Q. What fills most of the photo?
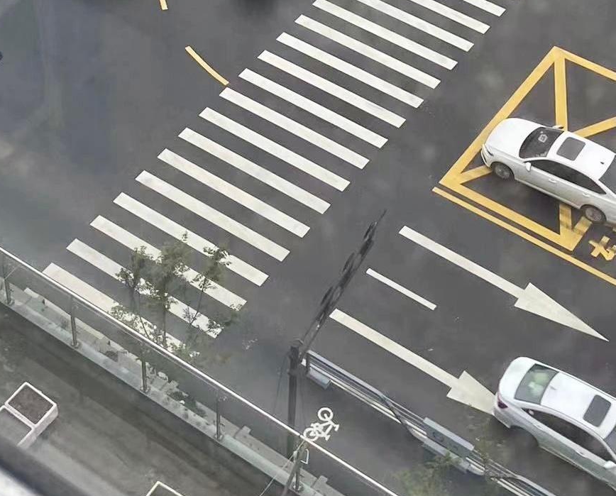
paved ground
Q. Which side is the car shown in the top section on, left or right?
right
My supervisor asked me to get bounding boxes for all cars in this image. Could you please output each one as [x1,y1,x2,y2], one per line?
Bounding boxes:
[481,116,616,227]
[494,352,616,488]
